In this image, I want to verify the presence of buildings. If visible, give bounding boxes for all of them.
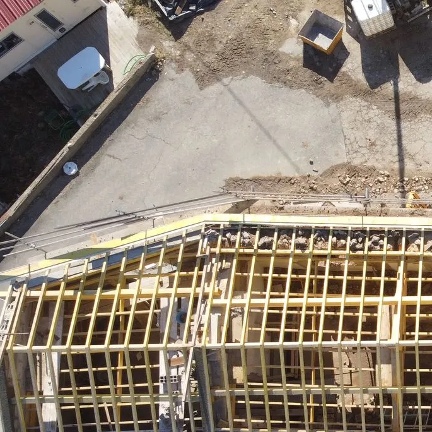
[0,212,432,432]
[0,0,105,82]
